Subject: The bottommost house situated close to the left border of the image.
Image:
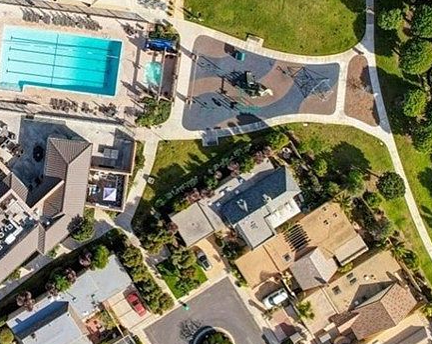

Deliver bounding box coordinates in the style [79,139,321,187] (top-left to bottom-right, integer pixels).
[6,294,91,344]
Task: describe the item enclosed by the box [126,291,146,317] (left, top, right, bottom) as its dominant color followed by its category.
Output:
red car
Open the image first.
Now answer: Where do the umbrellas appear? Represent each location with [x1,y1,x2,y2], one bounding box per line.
[32,147,44,160]
[103,187,115,201]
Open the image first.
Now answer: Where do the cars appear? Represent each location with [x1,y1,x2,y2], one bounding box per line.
[126,291,146,317]
[261,287,288,307]
[193,246,214,272]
